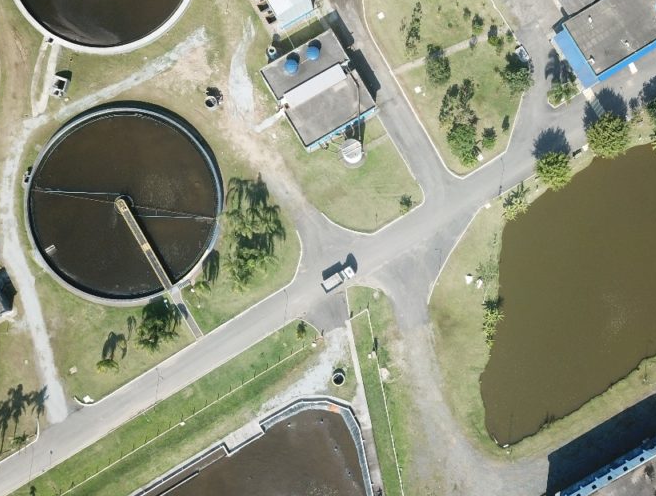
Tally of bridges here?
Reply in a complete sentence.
Just 1 bridge appears in this view.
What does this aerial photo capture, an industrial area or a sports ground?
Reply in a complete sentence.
This image shows an industrial area.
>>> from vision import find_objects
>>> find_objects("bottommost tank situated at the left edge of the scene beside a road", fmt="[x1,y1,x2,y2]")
[20,106,226,305]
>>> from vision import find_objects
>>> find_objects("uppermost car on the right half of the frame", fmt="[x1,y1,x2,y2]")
[512,43,529,64]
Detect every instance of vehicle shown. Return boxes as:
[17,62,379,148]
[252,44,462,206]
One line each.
[323,264,359,292]
[512,43,529,64]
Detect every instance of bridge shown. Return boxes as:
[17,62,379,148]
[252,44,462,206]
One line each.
[116,196,175,292]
